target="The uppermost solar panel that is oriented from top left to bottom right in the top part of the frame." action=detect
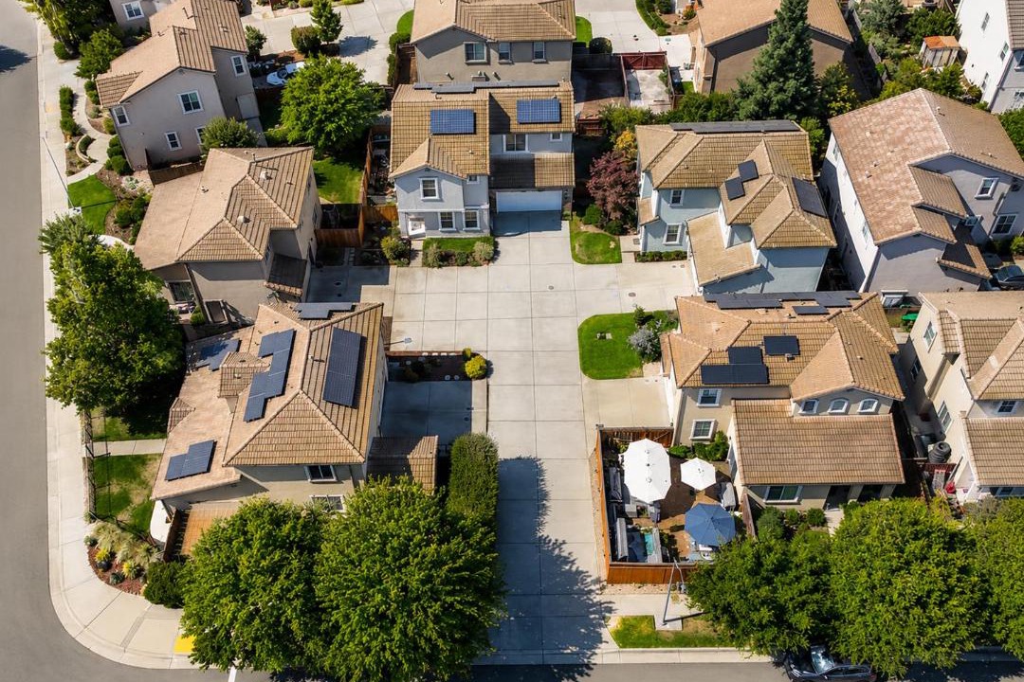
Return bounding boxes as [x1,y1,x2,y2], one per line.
[793,174,824,213]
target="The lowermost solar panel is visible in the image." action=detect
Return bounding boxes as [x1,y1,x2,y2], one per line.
[165,437,214,478]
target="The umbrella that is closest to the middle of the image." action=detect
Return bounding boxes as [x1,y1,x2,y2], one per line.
[624,439,671,504]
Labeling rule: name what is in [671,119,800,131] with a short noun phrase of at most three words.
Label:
solar panel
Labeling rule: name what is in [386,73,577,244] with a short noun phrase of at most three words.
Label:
house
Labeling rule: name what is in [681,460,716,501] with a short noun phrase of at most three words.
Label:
umbrella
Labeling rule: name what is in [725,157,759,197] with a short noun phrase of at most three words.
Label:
solar panel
